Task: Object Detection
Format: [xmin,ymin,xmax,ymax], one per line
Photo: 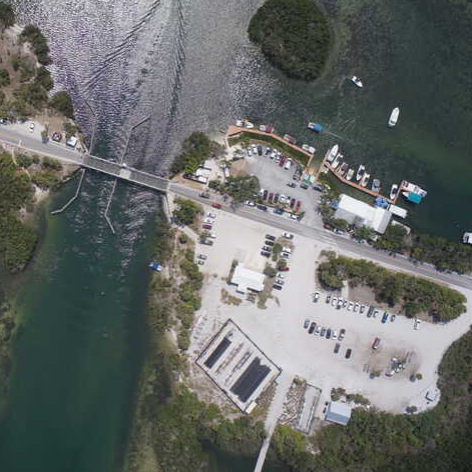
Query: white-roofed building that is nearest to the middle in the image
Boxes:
[230,264,265,294]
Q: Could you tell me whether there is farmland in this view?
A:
No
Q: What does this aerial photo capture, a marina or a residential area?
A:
marina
